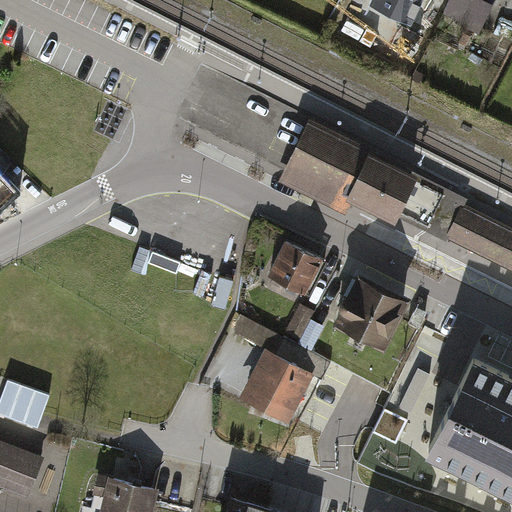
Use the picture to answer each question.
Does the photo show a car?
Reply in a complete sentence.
Yes, I can see a car in this picture.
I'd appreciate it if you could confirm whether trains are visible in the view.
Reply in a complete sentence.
No, I can't see a single train in this photo.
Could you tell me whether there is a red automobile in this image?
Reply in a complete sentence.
Yes, the frame does contain a red automobile.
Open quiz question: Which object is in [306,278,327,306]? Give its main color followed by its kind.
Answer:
white vehicle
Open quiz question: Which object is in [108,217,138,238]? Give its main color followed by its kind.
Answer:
white vehicle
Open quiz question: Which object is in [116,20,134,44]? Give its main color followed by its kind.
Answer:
white car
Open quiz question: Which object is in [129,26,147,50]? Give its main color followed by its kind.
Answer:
gray car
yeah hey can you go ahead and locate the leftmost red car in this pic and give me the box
[2,23,18,46]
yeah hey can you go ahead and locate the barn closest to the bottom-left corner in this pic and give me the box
[0,440,44,498]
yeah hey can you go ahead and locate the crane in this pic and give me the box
[326,0,416,65]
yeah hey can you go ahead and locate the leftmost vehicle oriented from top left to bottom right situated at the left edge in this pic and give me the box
[22,179,44,202]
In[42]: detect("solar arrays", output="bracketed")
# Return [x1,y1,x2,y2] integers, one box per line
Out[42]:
[448,432,512,478]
